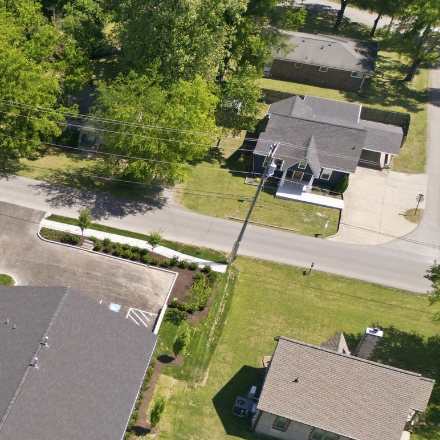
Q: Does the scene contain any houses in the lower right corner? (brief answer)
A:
Yes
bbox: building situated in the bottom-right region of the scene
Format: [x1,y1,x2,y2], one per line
[251,317,432,440]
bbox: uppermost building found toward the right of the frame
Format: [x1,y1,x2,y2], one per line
[255,27,382,93]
